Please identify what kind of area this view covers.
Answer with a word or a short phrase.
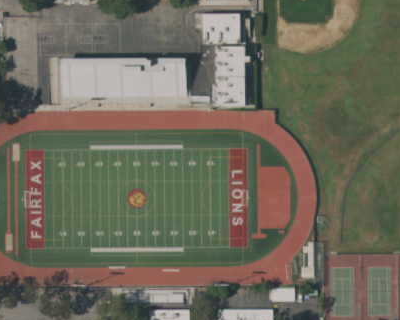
sports ground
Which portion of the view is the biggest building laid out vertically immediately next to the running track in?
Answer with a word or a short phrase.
top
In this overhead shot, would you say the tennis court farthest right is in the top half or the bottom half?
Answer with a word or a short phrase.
bottom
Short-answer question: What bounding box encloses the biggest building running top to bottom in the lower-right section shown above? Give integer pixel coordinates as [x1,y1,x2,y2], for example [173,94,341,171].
[301,242,314,278]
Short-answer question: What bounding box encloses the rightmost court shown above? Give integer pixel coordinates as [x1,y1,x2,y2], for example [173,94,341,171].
[366,266,392,315]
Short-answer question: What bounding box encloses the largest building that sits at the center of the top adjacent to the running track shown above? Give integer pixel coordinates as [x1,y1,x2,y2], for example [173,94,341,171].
[216,44,246,106]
